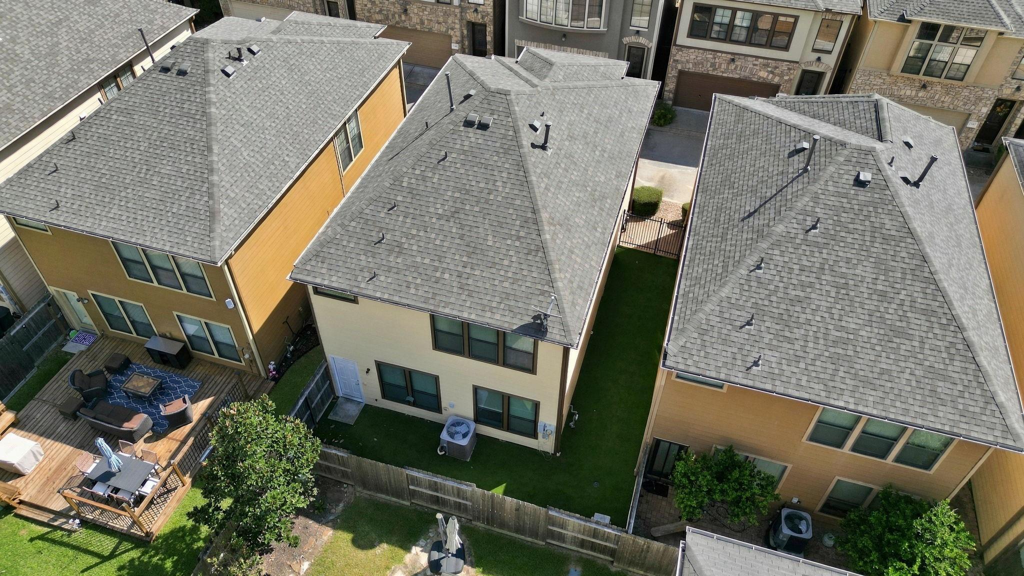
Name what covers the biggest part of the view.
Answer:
buildings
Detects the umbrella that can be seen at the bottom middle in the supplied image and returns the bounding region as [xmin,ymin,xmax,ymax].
[422,515,466,576]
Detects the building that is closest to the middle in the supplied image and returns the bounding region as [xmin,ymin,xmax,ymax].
[287,46,658,463]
